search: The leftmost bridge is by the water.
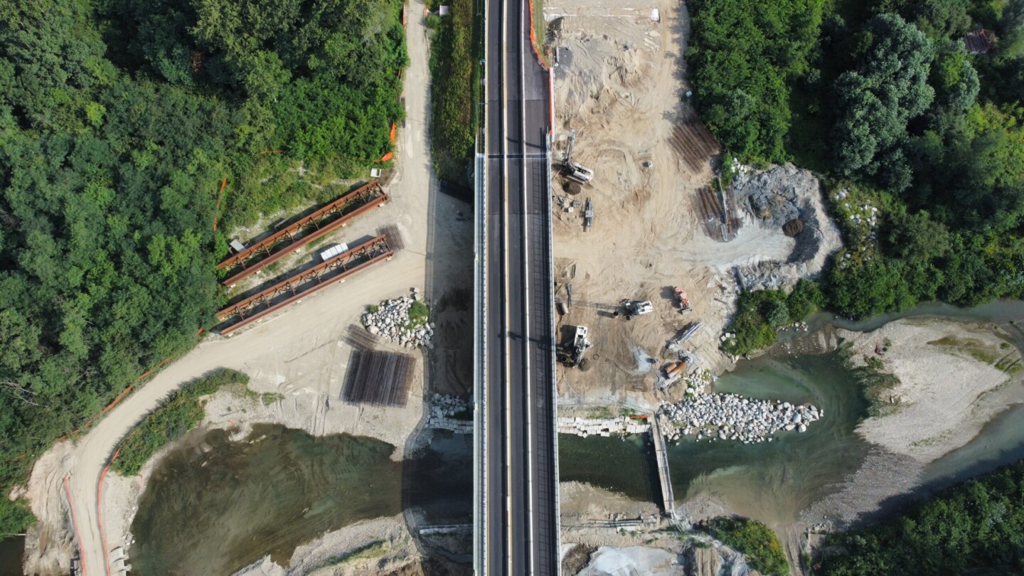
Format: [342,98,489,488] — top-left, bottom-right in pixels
[472,139,560,576]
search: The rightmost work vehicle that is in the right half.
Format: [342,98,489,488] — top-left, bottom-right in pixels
[673,286,694,319]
